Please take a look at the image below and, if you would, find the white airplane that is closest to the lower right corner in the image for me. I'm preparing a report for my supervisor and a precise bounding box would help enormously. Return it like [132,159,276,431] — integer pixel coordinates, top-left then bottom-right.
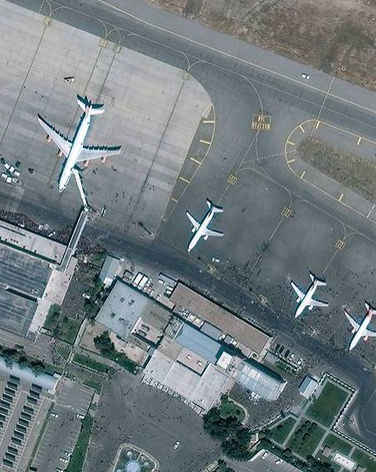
[345,304,376,350]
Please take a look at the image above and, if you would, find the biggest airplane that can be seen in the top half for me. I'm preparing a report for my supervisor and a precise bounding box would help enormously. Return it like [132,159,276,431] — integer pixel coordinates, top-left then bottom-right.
[41,99,121,192]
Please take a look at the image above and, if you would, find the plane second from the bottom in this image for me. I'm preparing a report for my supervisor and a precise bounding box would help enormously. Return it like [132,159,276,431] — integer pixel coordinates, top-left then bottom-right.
[292,274,328,318]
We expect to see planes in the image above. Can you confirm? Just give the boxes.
[345,304,376,350]
[292,274,328,318]
[41,99,121,192]
[188,200,224,251]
